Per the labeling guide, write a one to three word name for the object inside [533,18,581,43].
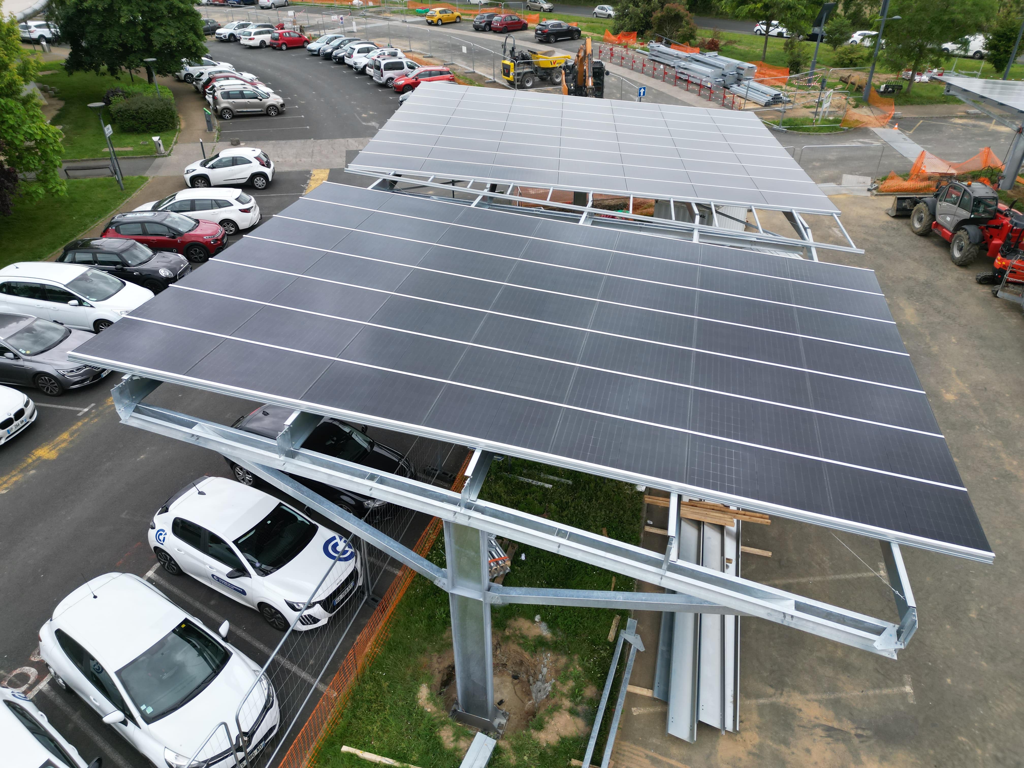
car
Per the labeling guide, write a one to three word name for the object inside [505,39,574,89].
truck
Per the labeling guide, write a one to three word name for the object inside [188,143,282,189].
car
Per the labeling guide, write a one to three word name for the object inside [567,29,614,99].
work vehicle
